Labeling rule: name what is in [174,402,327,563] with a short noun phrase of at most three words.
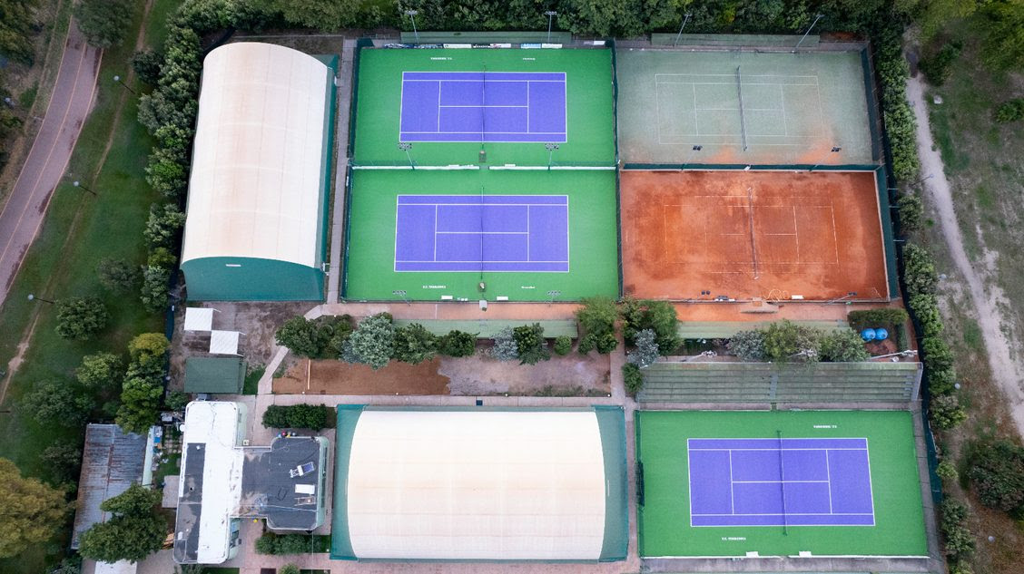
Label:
building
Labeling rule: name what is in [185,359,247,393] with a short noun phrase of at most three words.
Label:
shed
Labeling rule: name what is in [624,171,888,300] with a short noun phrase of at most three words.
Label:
tennis court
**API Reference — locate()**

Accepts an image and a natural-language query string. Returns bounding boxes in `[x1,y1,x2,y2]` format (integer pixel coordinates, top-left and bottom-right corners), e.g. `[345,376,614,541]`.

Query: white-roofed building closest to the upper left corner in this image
[182,41,335,301]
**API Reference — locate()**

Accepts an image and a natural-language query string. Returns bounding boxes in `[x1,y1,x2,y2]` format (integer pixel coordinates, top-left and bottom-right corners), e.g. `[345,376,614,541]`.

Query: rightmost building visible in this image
[330,406,628,561]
